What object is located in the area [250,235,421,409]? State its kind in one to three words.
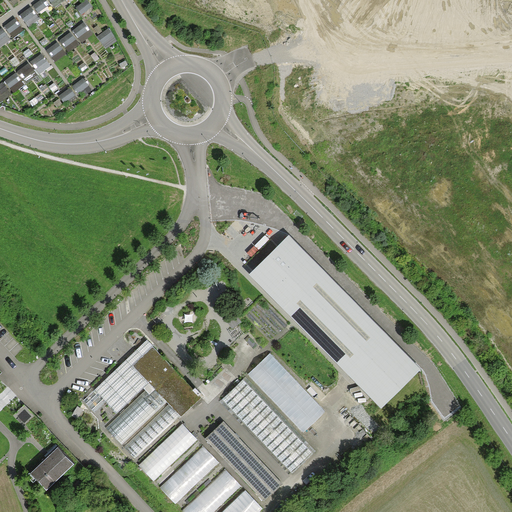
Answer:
building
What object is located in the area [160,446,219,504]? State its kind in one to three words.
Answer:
greenhouse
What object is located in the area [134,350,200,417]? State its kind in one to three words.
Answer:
building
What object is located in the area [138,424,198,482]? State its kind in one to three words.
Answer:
greenhouse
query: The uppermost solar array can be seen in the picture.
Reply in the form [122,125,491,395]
[288,302,344,358]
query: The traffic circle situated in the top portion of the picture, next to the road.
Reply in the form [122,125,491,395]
[142,54,232,144]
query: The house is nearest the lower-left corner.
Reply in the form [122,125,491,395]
[28,447,73,492]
